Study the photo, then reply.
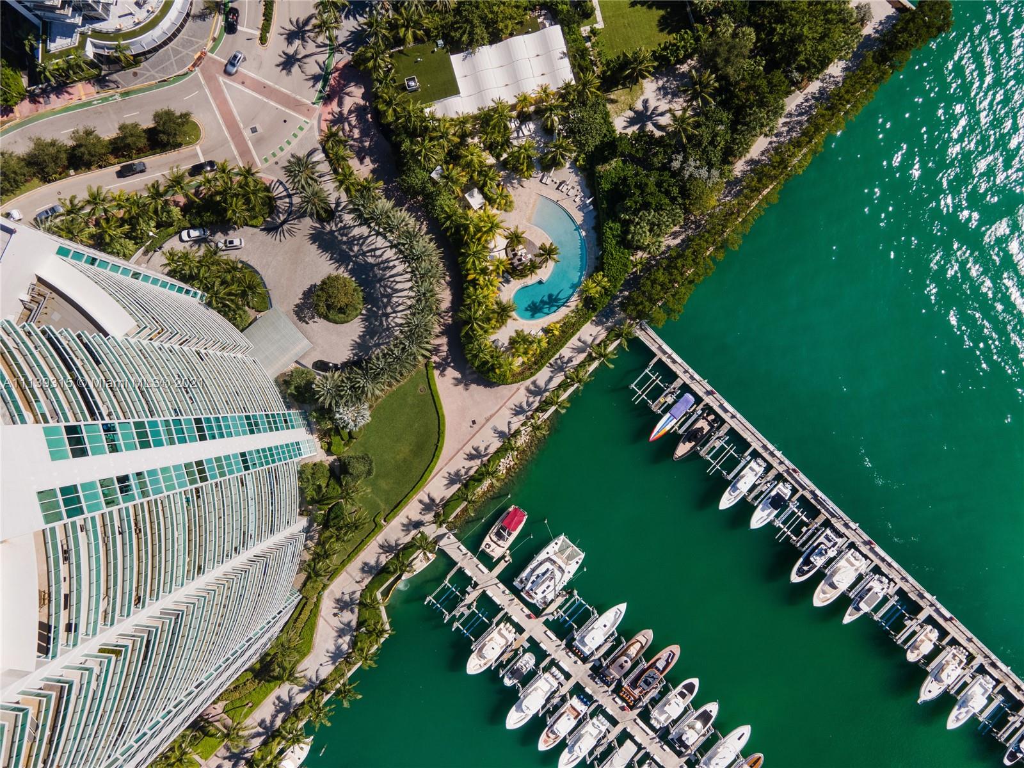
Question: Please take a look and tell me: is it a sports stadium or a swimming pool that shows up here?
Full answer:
It is a swimming pool that can be seen here.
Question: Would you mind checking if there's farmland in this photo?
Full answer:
No, there is no farmland in the image.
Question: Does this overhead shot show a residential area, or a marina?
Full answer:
This looks like a marina.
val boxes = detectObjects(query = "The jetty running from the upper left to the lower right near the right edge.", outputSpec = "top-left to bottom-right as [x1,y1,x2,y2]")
[632,320,1024,740]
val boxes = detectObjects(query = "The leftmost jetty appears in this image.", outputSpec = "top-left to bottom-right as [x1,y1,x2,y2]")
[436,527,749,768]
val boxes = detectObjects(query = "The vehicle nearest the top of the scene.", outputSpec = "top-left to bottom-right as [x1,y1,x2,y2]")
[225,7,239,35]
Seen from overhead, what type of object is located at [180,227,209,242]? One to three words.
car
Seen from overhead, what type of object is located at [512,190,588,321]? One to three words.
swimming pool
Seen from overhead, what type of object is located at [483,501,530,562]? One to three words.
boat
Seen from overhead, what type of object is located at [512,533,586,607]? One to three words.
boat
